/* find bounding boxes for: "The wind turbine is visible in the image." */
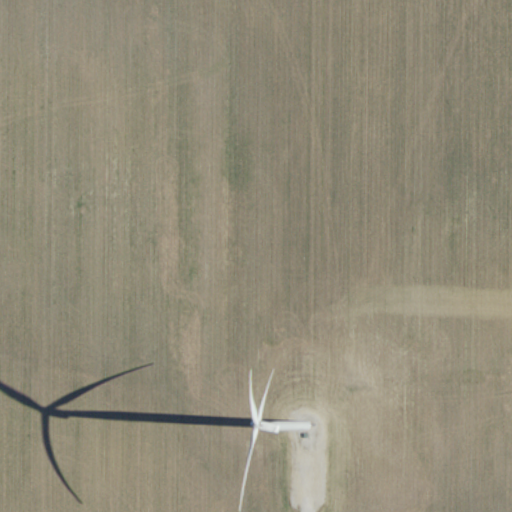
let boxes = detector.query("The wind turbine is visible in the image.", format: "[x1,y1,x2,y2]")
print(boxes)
[240,370,316,512]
